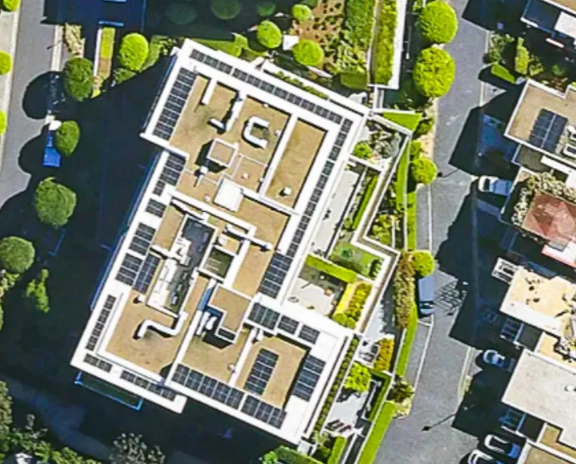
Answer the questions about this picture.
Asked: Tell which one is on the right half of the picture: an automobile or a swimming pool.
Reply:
automobile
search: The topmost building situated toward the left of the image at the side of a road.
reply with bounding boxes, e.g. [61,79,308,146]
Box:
[71,40,371,445]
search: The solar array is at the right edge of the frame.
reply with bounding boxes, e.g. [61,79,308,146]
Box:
[529,108,568,153]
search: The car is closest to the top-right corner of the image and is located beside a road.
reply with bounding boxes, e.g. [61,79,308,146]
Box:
[477,176,513,194]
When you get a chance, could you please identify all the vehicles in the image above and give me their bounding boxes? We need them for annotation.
[477,176,513,194]
[476,348,512,368]
[485,435,521,456]
[417,276,436,315]
[470,453,505,464]
[43,120,63,168]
